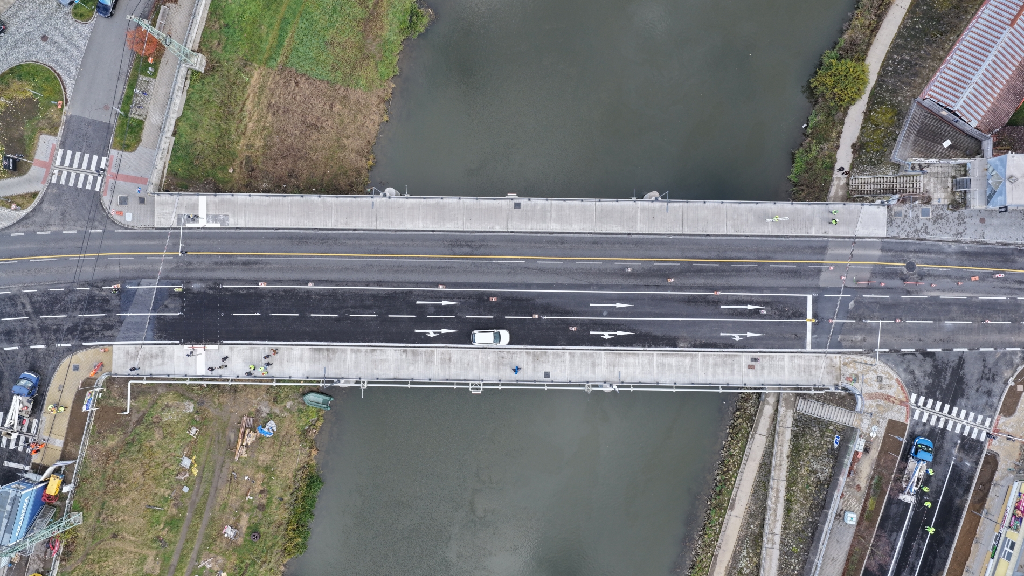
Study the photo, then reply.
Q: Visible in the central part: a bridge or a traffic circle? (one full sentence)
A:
The feature located in the central part is a bridge.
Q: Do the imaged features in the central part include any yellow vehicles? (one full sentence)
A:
No, no yellow vehicle can be made out in the central part.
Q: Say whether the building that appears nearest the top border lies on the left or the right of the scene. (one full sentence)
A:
It is on the right.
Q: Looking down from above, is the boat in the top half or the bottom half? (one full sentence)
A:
It is in the bottom half that the boat appears.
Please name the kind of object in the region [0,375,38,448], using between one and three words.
truck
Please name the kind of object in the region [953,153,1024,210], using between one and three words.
building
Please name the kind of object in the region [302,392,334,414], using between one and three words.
boat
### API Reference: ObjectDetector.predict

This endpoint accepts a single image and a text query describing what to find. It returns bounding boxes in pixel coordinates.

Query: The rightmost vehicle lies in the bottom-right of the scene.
[897,439,942,513]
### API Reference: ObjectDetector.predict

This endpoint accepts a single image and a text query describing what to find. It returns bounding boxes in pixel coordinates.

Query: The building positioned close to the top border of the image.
[914,0,1024,135]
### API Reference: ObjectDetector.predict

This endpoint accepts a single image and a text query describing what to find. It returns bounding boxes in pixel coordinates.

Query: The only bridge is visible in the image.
[106,182,901,394]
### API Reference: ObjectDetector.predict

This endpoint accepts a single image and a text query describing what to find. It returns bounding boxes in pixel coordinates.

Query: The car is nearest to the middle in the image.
[471,329,509,348]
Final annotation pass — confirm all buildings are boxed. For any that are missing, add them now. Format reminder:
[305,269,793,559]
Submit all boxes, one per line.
[914,0,1024,135]
[953,153,1024,210]
[966,472,1024,576]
